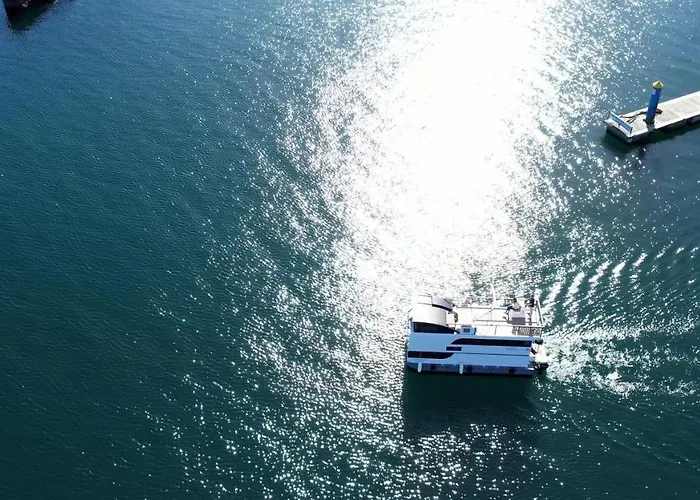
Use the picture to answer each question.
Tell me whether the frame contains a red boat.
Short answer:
No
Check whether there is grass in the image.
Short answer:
No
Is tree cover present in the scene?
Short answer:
No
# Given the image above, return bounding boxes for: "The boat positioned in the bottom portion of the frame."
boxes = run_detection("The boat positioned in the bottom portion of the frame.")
[407,278,551,376]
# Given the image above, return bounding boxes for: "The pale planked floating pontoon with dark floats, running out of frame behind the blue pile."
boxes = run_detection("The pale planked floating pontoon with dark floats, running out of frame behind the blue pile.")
[604,92,700,146]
